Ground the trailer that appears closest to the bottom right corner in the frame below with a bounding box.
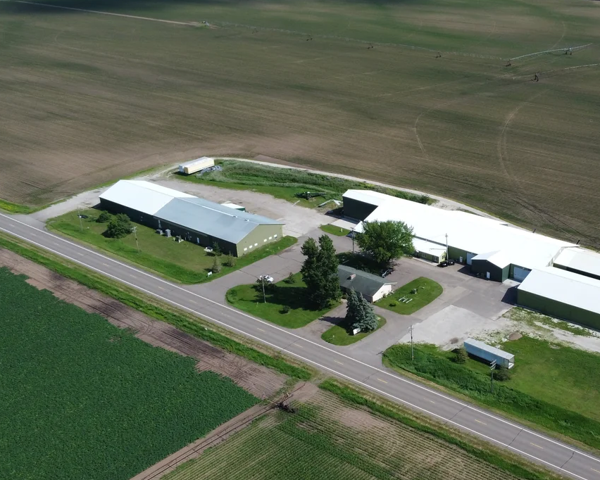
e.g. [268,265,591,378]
[460,332,515,366]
